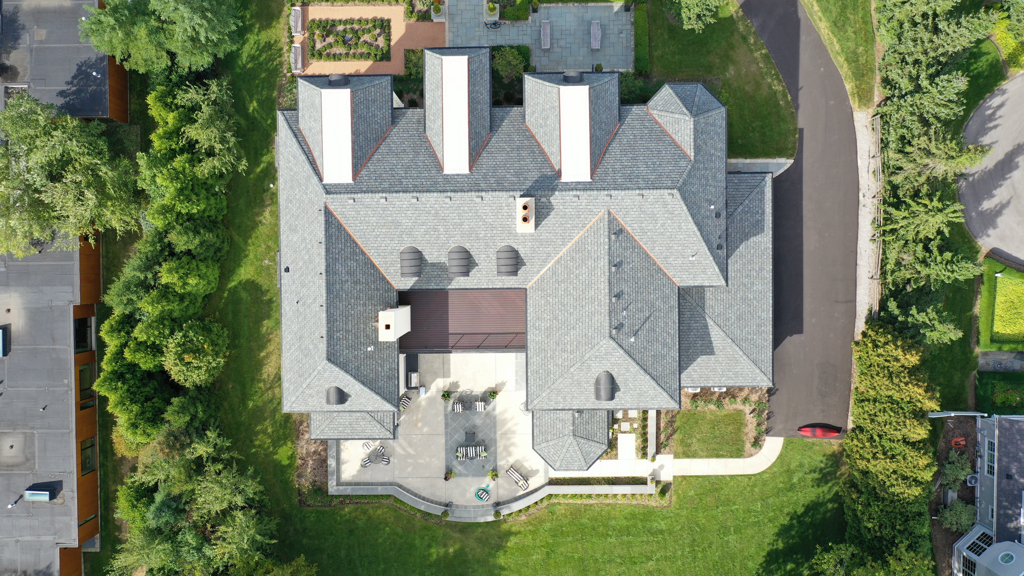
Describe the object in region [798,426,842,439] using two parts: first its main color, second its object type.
red boat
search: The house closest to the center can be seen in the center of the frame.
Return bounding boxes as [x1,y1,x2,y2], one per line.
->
[274,46,775,472]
